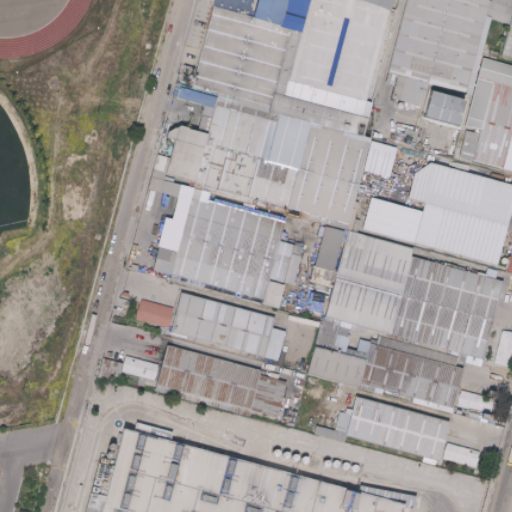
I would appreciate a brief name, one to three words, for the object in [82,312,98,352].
vehicle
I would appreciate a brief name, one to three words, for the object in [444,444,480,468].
house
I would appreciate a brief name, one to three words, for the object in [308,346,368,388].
building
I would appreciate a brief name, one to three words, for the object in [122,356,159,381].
house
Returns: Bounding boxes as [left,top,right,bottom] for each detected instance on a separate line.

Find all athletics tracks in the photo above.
[0,0,90,58]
